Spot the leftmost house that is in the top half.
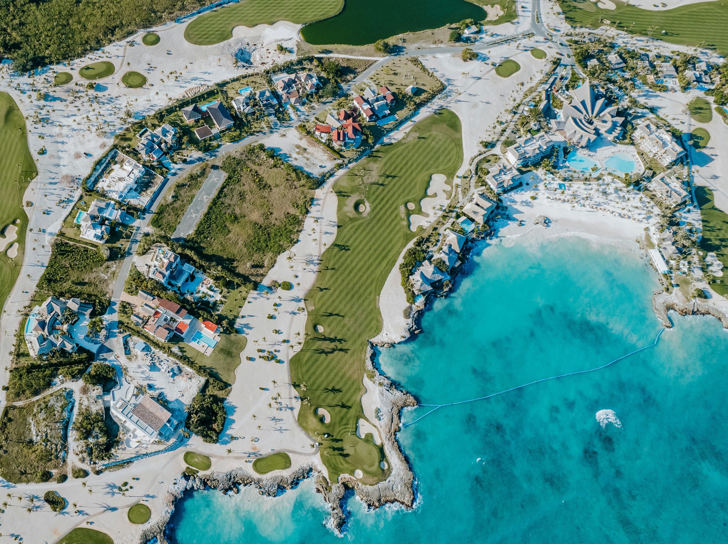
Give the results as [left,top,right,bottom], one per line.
[97,159,147,204]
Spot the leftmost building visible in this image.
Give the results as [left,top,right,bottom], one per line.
[26,296,93,358]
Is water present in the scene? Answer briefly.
Yes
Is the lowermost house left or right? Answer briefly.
left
